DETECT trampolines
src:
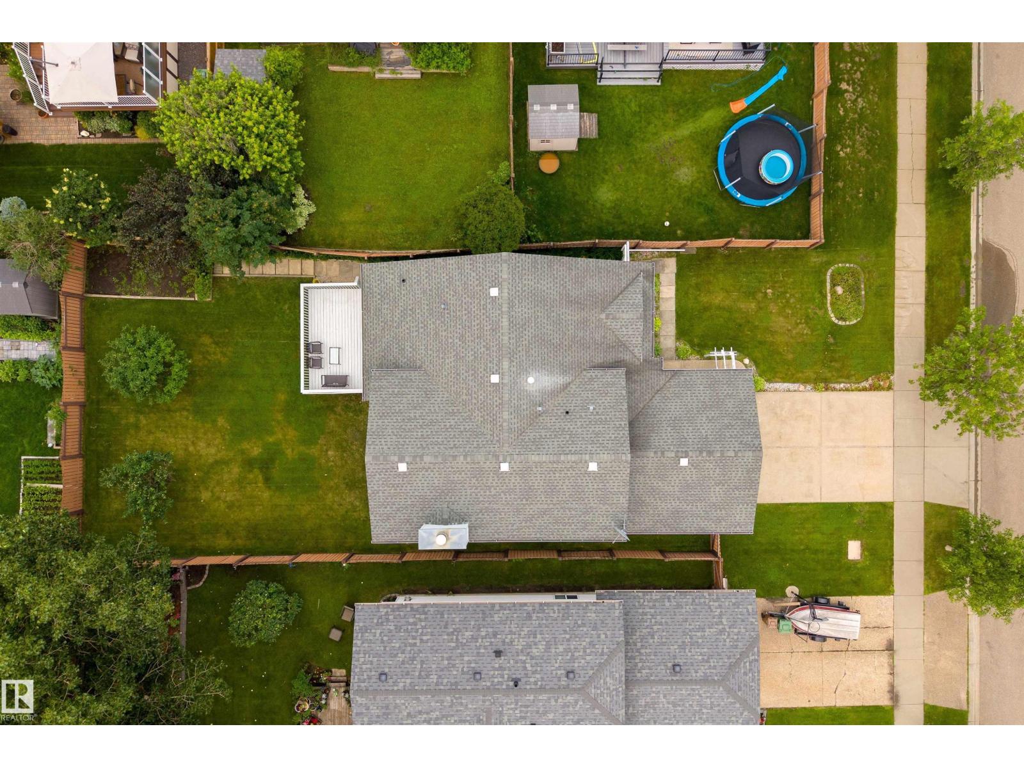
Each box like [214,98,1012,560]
[714,102,819,210]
